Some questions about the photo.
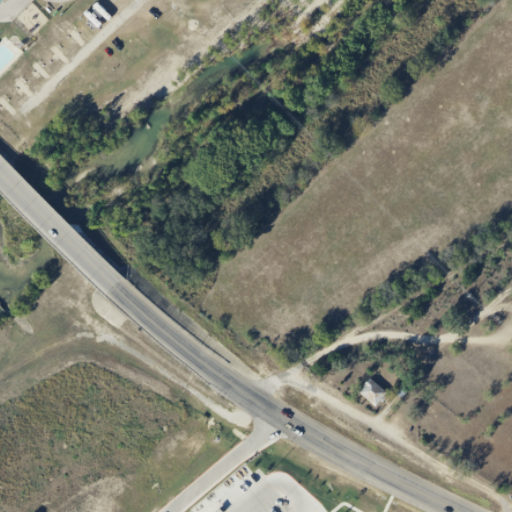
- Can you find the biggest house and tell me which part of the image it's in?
bottom right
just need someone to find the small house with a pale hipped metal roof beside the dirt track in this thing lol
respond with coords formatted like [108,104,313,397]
[361,380,386,405]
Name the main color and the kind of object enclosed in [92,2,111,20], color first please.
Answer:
white vehicle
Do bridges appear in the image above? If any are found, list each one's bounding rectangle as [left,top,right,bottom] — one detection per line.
[0,155,122,296]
